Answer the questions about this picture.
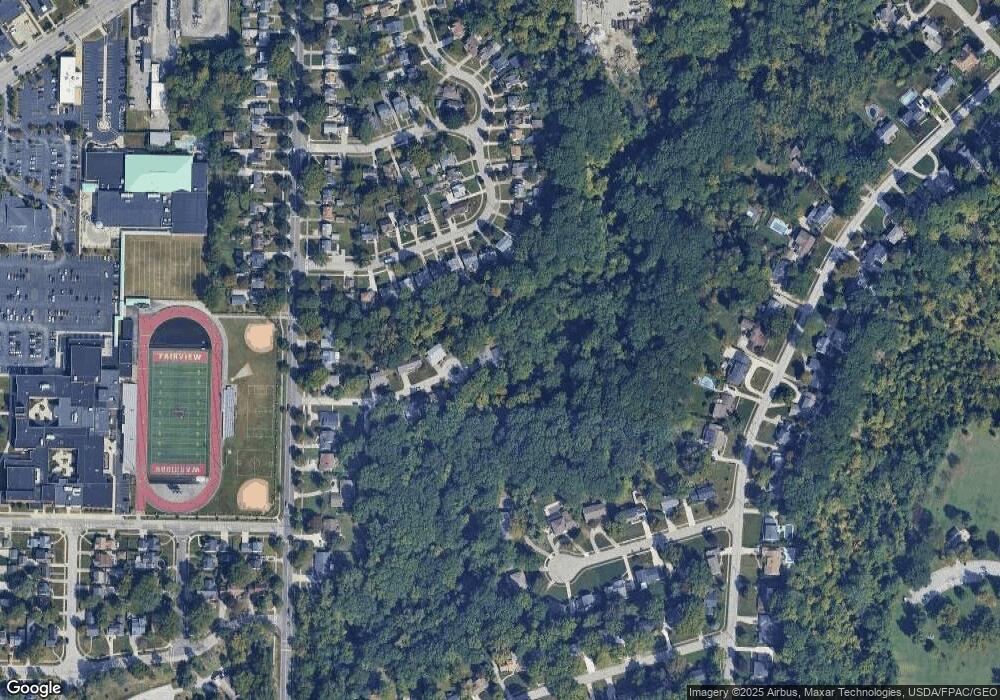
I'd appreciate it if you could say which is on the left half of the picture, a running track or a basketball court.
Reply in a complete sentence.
The feature located on the left half of the picture is a running track.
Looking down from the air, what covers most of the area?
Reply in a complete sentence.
For the most part, this view shows trees.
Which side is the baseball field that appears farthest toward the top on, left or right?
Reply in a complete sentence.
The baseball field that appears farthest toward the top appears in the left half of the scene.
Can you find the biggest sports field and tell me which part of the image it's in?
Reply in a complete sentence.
The biggest sports field appears toward the left of the photo.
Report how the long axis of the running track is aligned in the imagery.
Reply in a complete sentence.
The running track is oriented up and down.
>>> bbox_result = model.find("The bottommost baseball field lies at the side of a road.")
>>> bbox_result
[236,477,271,512]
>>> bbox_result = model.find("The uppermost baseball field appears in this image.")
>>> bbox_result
[244,321,276,353]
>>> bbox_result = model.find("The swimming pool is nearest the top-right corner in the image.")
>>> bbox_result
[899,89,919,106]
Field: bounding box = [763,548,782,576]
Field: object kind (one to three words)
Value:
house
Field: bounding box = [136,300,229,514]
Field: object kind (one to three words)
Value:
running track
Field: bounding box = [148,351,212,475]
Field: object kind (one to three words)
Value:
sports field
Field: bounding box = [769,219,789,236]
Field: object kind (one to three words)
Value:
swimming pool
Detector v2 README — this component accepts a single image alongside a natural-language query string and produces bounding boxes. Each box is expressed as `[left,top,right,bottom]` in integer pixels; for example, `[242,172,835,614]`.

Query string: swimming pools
[782,550,794,564]
[866,103,879,120]
[899,89,919,106]
[700,377,712,388]
[769,219,789,236]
